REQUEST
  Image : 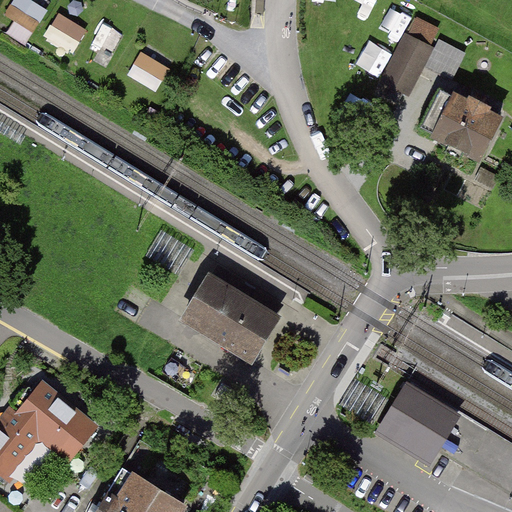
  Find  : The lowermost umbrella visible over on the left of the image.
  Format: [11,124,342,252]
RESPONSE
[8,490,23,505]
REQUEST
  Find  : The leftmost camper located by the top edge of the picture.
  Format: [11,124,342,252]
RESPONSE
[92,22,112,52]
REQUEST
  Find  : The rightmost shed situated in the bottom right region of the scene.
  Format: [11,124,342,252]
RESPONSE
[376,381,460,466]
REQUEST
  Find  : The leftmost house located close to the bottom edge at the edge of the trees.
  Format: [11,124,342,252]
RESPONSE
[0,380,98,496]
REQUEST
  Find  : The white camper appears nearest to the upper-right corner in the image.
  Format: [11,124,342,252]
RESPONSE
[388,12,412,46]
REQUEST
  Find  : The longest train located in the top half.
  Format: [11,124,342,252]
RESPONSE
[35,111,272,262]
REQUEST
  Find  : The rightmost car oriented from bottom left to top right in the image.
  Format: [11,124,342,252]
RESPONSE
[430,455,450,478]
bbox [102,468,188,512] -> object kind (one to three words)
house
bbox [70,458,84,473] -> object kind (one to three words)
umbrella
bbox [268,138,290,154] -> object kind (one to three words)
car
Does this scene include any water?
No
